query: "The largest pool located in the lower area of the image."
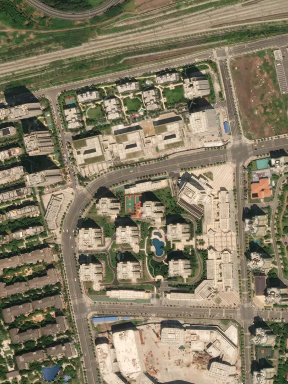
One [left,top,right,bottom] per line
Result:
[151,236,167,259]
